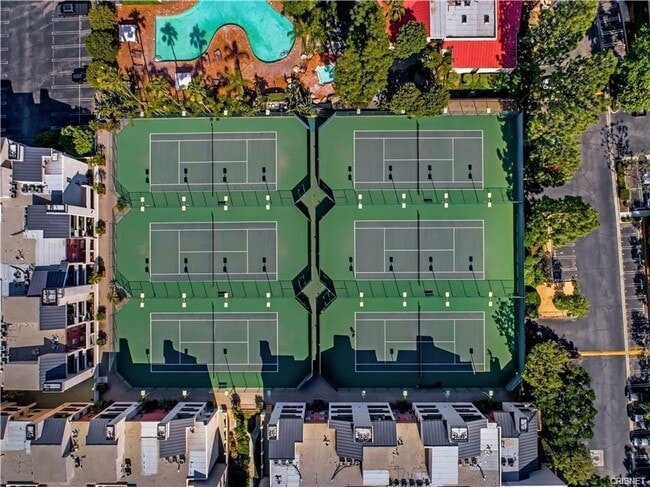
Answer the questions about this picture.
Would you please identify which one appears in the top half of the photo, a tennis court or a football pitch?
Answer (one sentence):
You can see a tennis court in the top half of the photo.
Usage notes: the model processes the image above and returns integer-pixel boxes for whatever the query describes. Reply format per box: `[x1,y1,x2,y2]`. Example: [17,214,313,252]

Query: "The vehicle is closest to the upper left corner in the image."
[56,1,88,17]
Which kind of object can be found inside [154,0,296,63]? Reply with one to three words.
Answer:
swimming pool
